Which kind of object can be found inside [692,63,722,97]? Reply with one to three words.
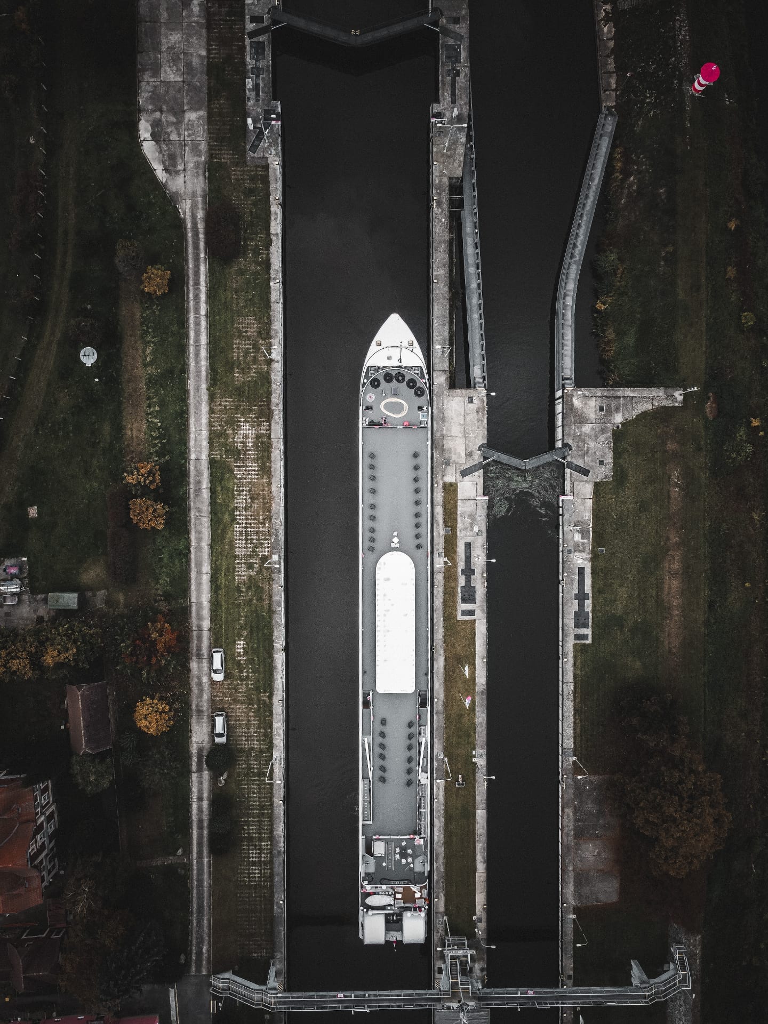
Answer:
lighthouse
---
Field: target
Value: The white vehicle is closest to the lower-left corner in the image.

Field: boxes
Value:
[212,714,226,744]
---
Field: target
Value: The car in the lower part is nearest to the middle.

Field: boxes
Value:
[209,650,224,681]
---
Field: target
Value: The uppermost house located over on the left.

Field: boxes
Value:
[66,678,118,754]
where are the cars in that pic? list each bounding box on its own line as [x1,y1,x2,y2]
[212,714,226,744]
[209,650,224,681]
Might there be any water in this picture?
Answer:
Yes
